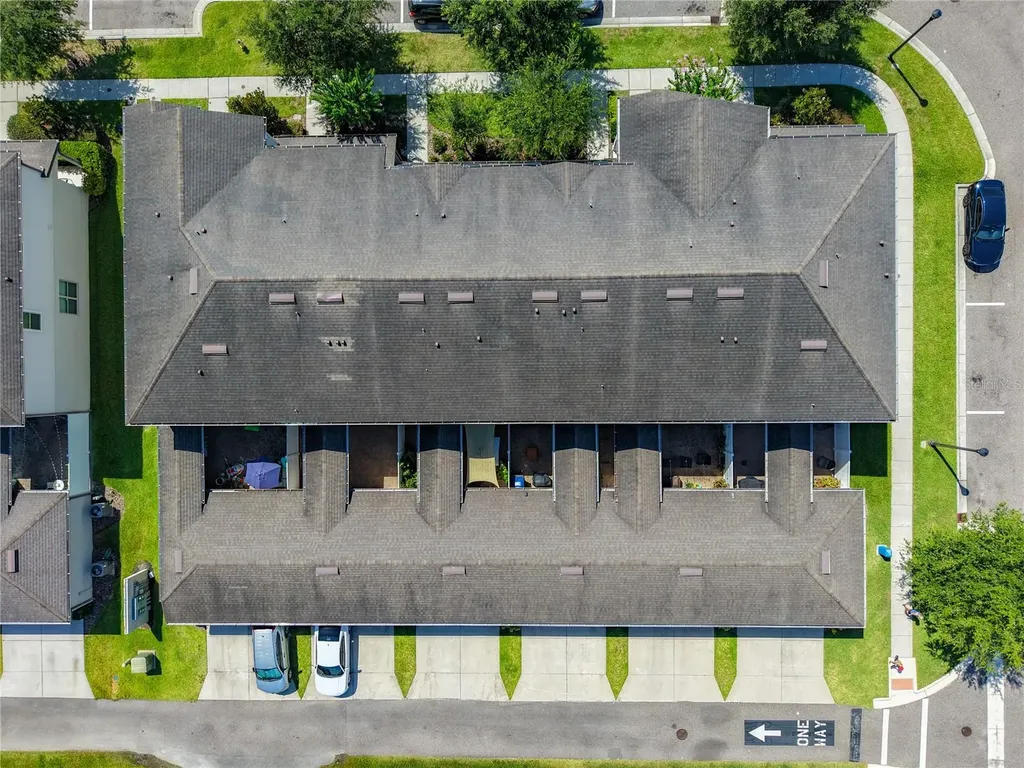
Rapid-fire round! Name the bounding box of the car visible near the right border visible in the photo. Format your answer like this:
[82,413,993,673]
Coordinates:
[960,180,1009,271]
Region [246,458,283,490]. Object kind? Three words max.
umbrella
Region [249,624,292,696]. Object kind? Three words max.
van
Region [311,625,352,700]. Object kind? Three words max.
car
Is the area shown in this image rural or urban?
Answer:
urban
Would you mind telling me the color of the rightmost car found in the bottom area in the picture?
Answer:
white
